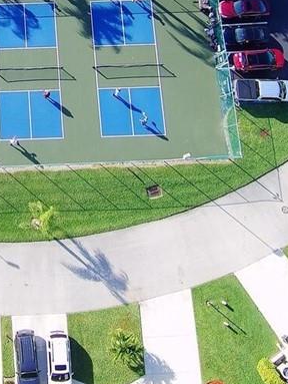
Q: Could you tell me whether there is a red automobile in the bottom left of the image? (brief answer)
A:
No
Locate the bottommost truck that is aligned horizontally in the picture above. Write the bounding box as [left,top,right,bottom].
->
[232,78,288,103]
